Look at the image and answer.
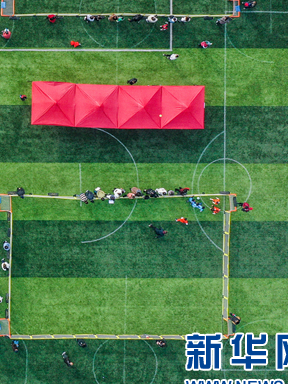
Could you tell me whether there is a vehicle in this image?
No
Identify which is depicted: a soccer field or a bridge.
soccer field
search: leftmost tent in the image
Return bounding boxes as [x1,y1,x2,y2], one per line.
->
[26,82,75,127]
